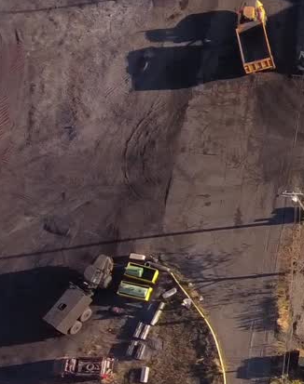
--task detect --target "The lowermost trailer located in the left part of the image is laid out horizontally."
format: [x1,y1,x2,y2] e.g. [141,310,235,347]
[58,355,118,383]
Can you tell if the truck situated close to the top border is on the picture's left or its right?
right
